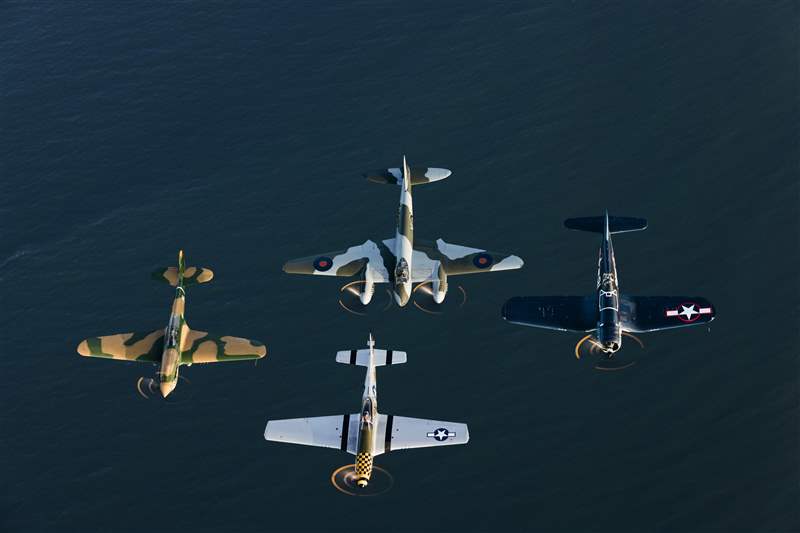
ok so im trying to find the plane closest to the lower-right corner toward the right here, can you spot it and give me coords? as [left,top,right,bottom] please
[503,209,716,369]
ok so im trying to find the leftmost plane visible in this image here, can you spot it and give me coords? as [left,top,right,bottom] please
[77,250,266,405]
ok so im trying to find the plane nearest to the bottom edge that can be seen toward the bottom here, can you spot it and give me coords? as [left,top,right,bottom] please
[264,331,469,495]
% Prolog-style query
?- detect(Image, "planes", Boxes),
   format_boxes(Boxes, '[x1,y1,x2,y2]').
[503,209,716,369]
[264,331,469,495]
[77,250,266,405]
[282,154,523,317]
